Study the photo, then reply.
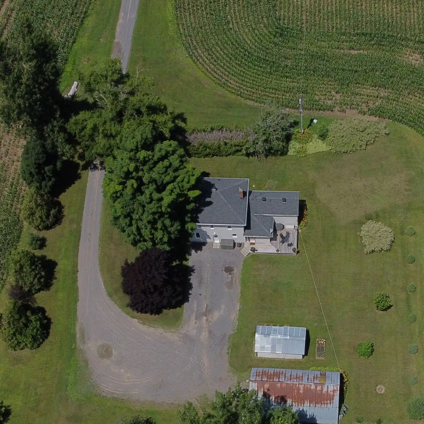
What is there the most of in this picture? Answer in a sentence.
For the most part, this view shows grass.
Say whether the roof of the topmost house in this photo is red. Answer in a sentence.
No, the roof of the topmost house is gray.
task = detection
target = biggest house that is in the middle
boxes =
[183,176,298,242]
